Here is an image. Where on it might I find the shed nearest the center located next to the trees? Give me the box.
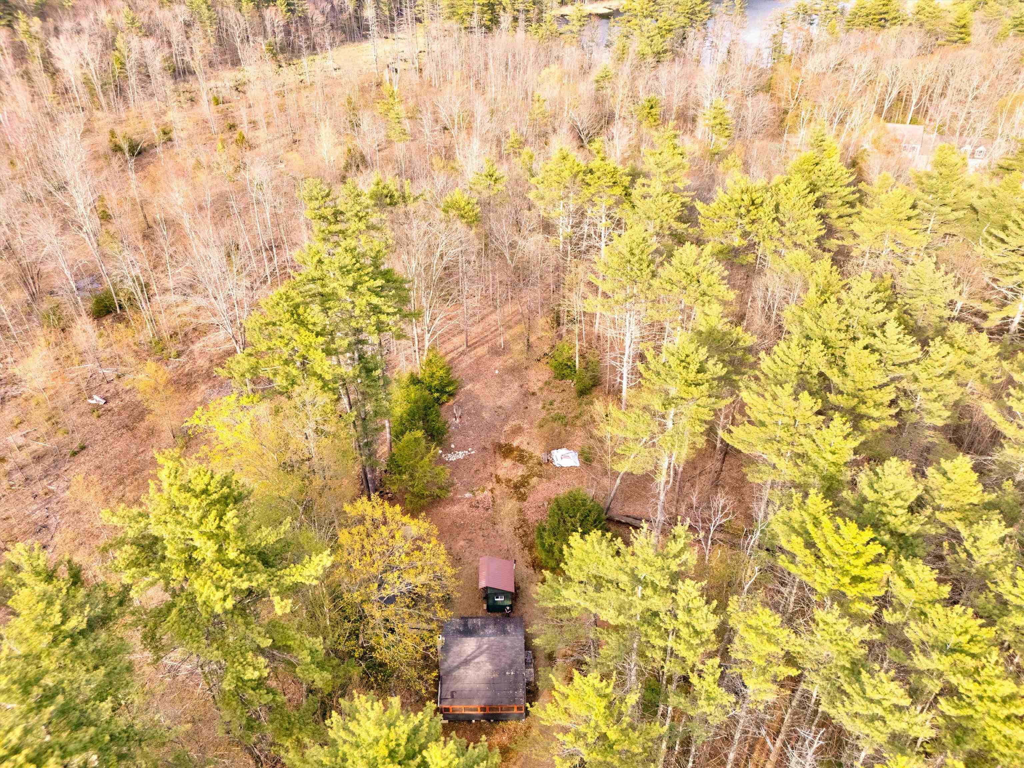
[478,554,517,613]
